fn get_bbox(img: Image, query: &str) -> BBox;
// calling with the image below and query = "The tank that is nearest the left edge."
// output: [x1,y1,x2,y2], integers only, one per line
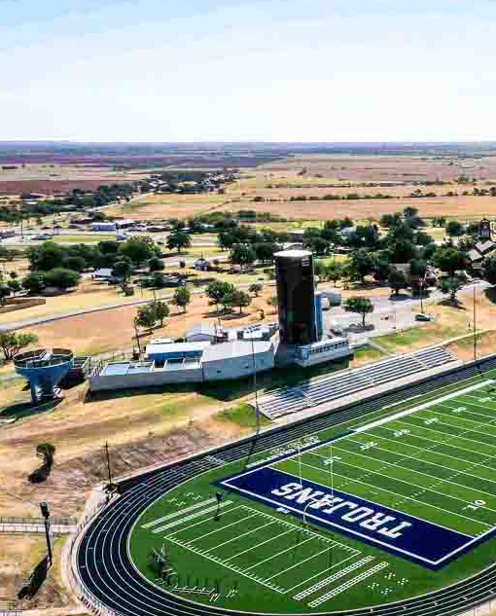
[13,348,75,409]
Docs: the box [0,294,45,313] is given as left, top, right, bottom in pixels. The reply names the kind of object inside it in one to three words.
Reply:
building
